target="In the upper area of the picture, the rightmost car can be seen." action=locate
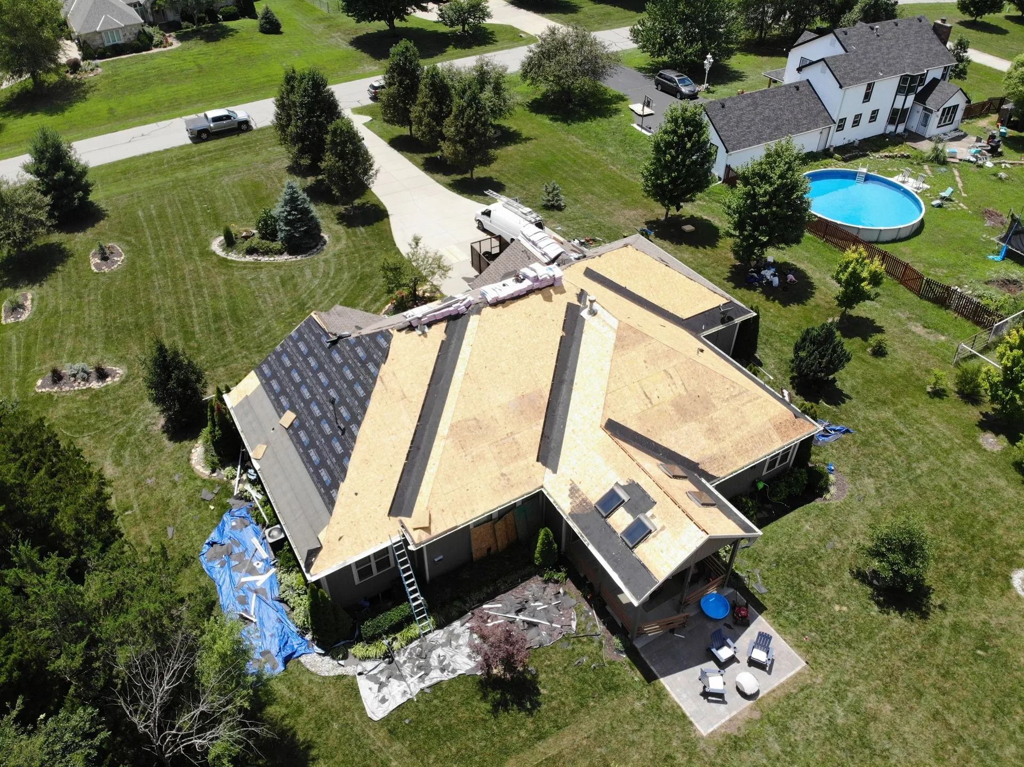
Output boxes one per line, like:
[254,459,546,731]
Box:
[652,69,701,100]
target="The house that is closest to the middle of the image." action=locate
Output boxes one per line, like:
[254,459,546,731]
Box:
[220,232,827,650]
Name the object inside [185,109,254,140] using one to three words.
truck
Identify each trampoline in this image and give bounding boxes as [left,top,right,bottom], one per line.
[993,216,1024,264]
